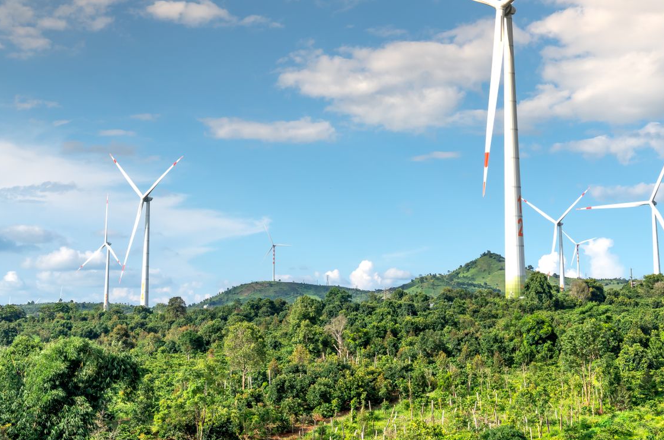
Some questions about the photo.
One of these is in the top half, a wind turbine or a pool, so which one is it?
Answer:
wind turbine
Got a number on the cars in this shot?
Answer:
zero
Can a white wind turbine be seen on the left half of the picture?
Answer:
Yes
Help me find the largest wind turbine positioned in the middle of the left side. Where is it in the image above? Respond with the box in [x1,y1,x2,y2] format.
[111,155,184,306]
